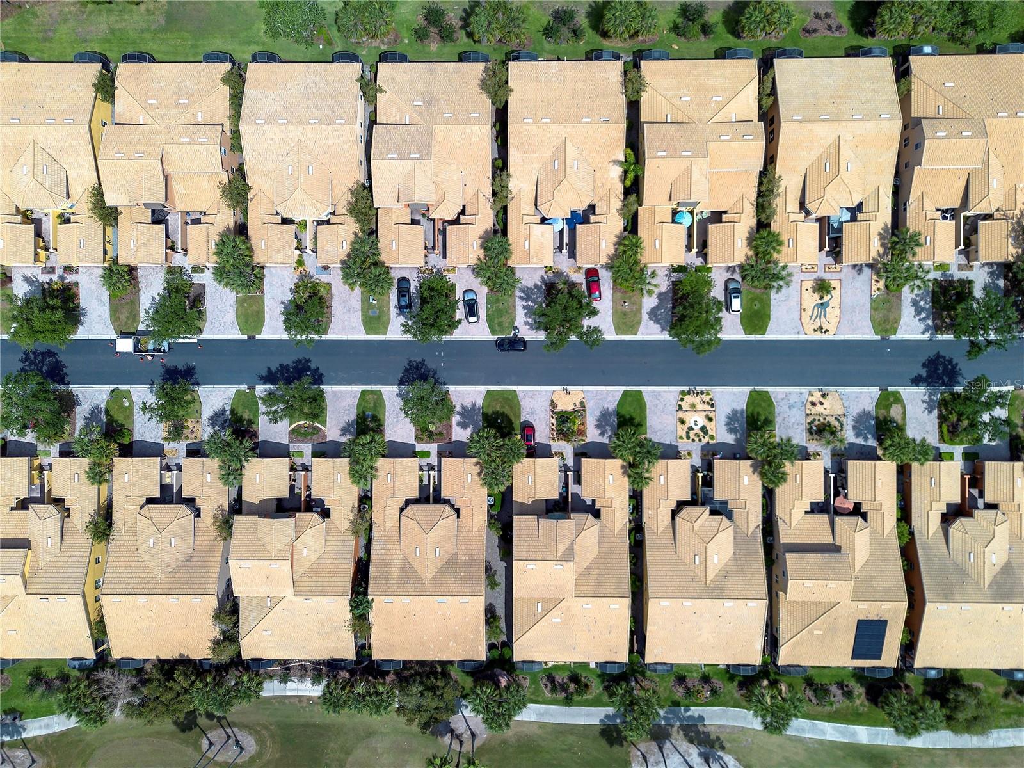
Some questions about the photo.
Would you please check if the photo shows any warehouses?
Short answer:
No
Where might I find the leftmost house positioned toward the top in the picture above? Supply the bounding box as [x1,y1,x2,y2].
[0,52,111,267]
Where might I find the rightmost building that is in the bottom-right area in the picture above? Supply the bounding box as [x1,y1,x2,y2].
[904,462,1024,680]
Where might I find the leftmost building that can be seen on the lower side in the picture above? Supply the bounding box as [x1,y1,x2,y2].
[0,456,105,670]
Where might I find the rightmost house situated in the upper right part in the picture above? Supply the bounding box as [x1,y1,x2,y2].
[900,45,1024,264]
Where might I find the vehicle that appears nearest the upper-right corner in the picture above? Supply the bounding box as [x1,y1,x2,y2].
[725,279,742,314]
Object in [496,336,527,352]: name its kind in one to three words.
car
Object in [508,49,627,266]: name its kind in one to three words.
house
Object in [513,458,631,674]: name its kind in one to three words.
house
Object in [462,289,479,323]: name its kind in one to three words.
car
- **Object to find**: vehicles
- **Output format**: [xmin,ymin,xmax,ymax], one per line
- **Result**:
[725,279,742,314]
[584,268,600,300]
[522,423,537,455]
[496,336,527,352]
[114,336,169,356]
[462,289,479,323]
[395,278,411,311]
